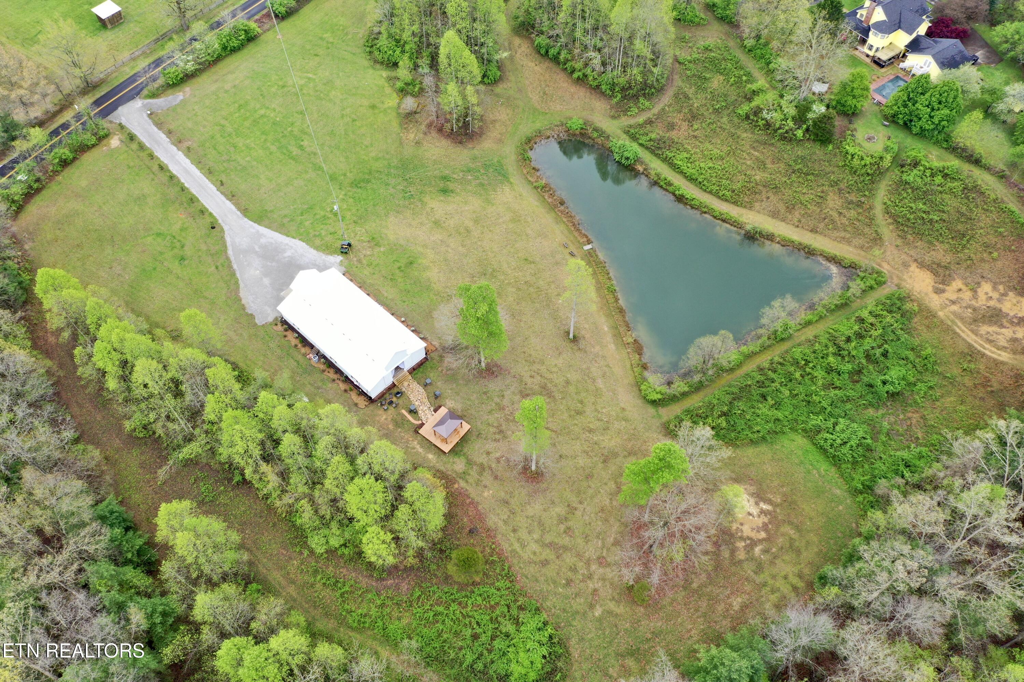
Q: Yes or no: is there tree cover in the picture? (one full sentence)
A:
Yes, there's tree cover in this view.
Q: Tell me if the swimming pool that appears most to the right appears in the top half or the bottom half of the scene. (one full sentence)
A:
It is in the top half that the swimming pool that appears most to the right appears.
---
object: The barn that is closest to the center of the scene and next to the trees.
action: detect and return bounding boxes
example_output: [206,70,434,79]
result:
[277,267,426,398]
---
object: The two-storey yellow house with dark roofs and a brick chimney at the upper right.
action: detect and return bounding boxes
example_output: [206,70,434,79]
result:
[834,0,934,56]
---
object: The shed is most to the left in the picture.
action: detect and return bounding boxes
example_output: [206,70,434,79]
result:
[90,1,124,28]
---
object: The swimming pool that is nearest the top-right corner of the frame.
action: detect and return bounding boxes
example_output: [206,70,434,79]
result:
[865,72,917,102]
